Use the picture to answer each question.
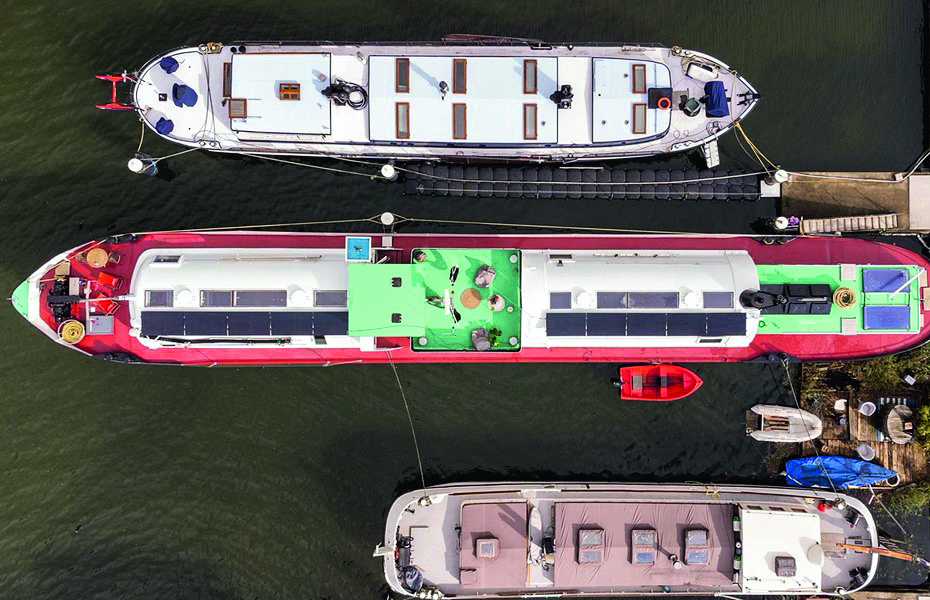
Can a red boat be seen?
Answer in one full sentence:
Yes, a red boat can be made out from above.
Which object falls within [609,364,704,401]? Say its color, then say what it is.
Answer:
red boat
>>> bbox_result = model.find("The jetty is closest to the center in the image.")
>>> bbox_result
[404,167,760,200]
